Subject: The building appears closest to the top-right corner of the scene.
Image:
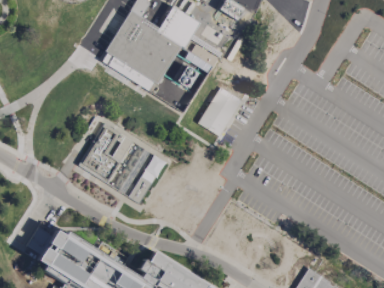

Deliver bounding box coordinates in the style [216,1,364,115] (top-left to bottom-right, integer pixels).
[220,0,246,20]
